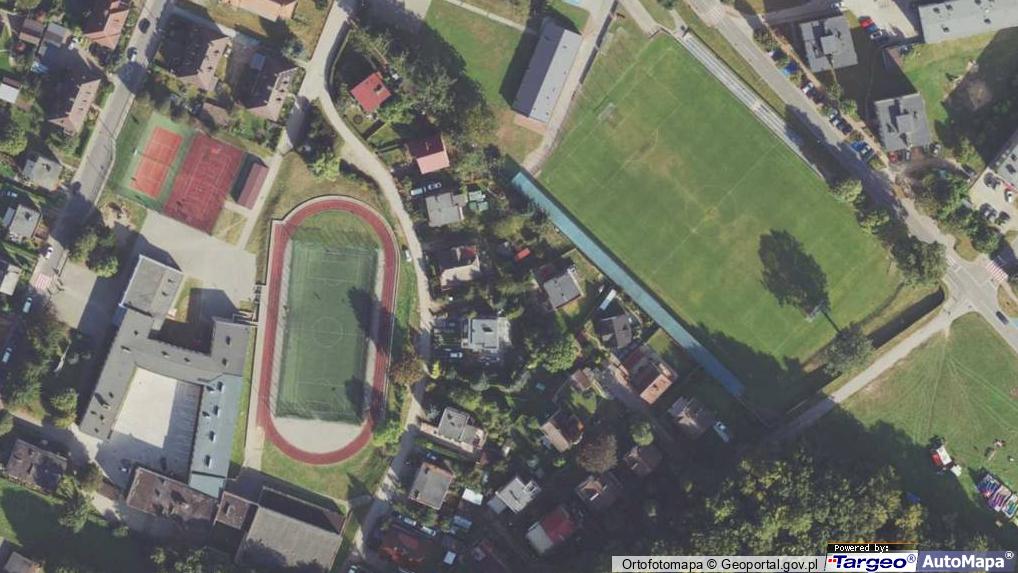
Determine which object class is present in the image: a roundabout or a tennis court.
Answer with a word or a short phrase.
tennis court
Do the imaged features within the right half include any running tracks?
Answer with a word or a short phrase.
No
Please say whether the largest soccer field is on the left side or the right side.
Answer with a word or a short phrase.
right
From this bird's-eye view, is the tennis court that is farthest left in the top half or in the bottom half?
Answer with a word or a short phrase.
top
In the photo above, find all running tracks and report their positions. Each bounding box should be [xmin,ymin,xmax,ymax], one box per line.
[254,196,400,466]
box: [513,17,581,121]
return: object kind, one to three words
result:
building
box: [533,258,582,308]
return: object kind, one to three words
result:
house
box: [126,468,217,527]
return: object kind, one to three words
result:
building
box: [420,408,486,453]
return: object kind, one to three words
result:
house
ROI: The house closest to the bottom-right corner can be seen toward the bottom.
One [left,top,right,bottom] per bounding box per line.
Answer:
[672,397,715,437]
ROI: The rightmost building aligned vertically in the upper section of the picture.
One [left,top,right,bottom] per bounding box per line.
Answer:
[987,124,1018,191]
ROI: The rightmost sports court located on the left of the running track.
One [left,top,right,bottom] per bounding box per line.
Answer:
[163,129,245,235]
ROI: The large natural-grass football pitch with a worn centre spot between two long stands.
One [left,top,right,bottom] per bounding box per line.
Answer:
[531,40,902,390]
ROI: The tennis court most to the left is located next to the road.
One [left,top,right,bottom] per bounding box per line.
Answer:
[112,110,196,211]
